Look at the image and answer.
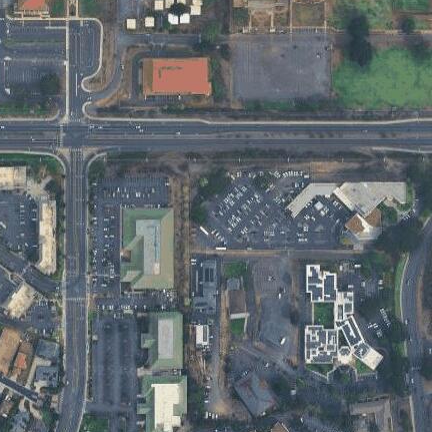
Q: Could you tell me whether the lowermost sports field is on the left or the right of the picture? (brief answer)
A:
right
